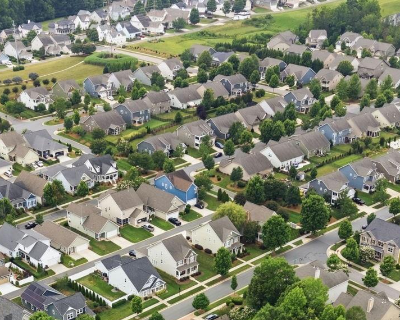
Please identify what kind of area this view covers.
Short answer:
residential area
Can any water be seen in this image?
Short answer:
No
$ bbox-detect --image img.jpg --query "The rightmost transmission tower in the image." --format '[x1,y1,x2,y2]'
[104,4,118,57]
